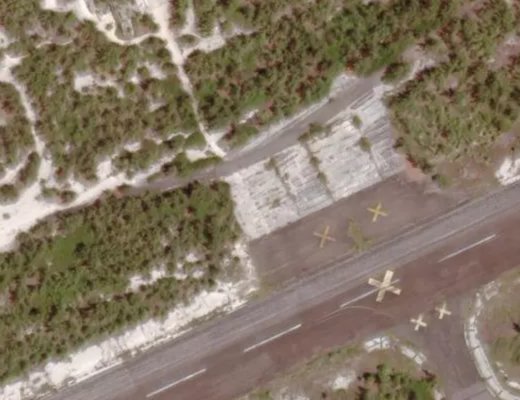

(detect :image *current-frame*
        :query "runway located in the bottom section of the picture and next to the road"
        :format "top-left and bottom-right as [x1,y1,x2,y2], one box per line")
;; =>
[36,89,520,400]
